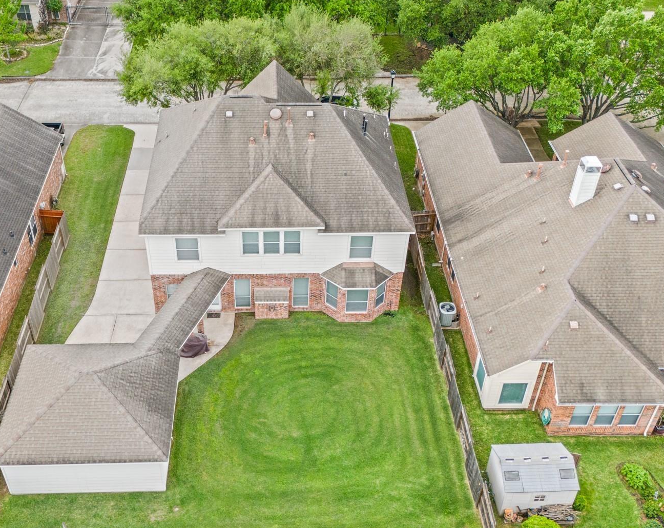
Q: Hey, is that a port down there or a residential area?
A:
residential area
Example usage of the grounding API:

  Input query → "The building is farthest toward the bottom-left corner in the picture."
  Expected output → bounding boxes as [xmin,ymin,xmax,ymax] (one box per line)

[0,343,180,495]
